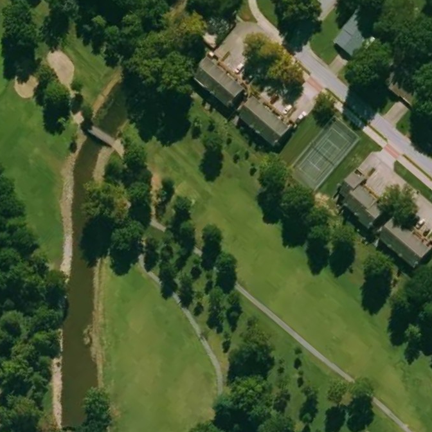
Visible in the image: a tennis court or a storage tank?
tennis court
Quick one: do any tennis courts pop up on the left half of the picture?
No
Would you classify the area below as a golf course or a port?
golf course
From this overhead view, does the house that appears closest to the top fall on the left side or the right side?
right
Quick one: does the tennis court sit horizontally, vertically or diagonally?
diagonally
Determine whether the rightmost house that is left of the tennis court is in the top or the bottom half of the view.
top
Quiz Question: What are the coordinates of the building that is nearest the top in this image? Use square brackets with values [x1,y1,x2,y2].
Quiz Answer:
[331,13,371,55]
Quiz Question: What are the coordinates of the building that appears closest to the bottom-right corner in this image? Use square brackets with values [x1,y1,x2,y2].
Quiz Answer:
[377,220,432,269]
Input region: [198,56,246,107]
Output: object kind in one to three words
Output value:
house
